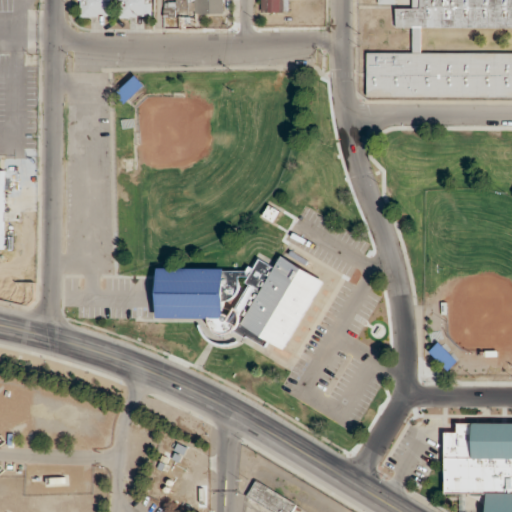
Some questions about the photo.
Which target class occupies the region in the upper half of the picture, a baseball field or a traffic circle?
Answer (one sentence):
Looking in the upper half of the picture, you will find a baseball field.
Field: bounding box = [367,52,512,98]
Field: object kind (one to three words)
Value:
building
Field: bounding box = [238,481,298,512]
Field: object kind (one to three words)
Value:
building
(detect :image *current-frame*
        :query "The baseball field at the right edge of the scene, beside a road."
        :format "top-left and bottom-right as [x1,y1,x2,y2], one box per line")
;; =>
[426,190,512,353]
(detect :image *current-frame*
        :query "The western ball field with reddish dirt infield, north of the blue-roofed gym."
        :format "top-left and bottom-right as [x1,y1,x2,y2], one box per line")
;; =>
[138,74,297,256]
